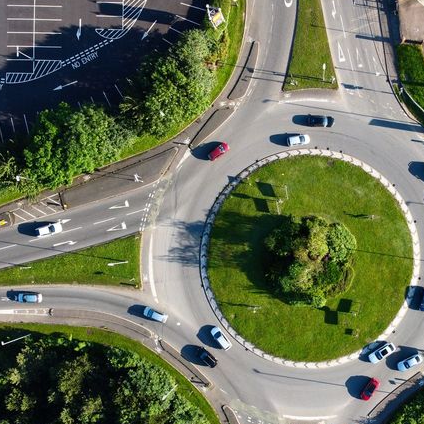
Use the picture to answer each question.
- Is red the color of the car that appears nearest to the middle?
Yes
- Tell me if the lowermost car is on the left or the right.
right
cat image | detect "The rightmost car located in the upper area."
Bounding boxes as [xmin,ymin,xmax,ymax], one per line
[307,113,334,127]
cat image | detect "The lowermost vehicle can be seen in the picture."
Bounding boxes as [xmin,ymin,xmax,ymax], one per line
[360,377,380,401]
